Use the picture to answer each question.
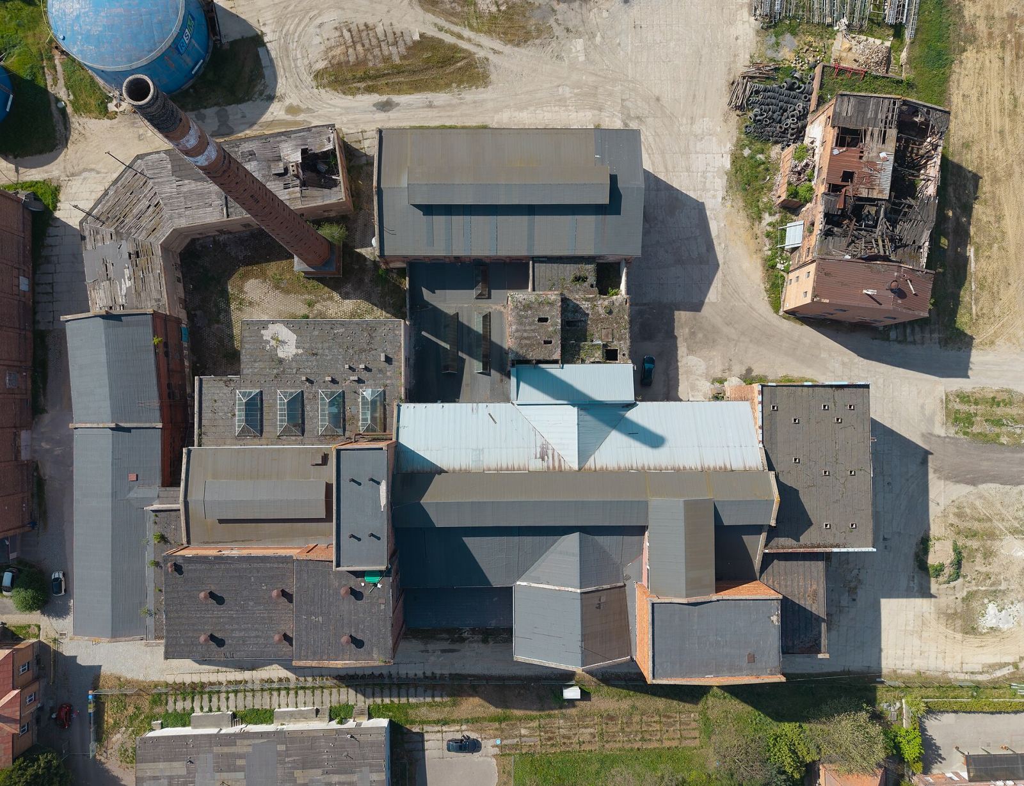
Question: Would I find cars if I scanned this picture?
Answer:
Yes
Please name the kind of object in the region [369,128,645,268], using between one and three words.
building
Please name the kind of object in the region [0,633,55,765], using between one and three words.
house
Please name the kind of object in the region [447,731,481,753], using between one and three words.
car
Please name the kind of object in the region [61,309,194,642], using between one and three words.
building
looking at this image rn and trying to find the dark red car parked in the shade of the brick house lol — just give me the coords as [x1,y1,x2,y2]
[56,701,75,730]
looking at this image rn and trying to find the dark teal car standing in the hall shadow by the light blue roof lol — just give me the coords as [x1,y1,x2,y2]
[639,354,655,386]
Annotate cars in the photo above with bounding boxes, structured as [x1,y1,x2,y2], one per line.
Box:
[639,354,655,386]
[56,701,75,730]
[447,731,481,753]
[50,569,68,596]
[0,566,19,596]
